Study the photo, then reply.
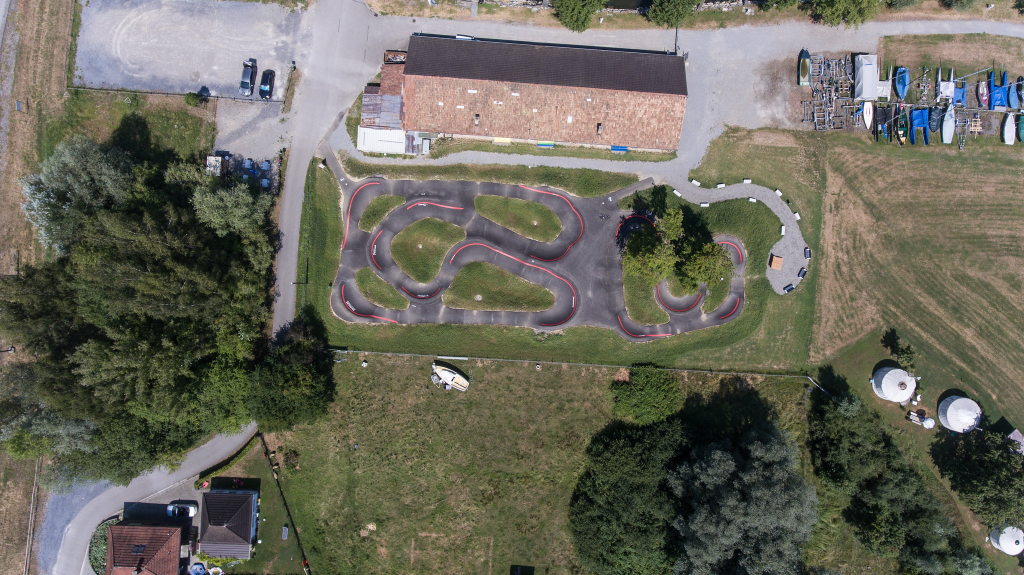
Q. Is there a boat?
Yes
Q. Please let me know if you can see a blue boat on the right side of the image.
Yes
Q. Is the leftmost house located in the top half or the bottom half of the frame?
bottom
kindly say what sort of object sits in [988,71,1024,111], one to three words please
boat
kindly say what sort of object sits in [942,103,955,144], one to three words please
boat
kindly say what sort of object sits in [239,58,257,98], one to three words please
car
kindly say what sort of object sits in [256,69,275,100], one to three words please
car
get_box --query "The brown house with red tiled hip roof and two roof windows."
[106,518,193,575]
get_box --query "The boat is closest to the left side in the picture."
[432,364,470,394]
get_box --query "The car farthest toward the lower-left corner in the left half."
[168,502,199,518]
